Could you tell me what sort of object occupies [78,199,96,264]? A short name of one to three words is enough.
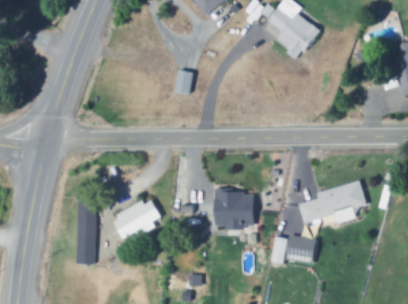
shed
